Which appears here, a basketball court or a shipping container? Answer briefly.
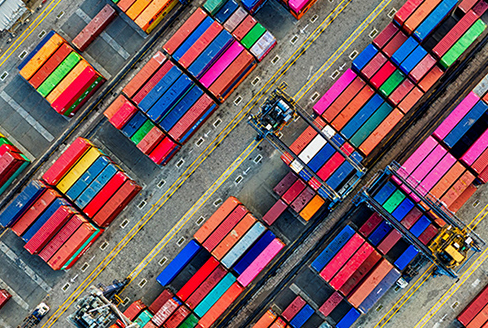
shipping container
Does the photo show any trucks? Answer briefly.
Yes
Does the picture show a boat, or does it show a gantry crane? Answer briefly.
gantry crane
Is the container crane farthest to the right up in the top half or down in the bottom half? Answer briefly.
bottom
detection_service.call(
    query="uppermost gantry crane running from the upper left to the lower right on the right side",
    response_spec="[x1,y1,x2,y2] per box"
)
[245,84,371,214]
